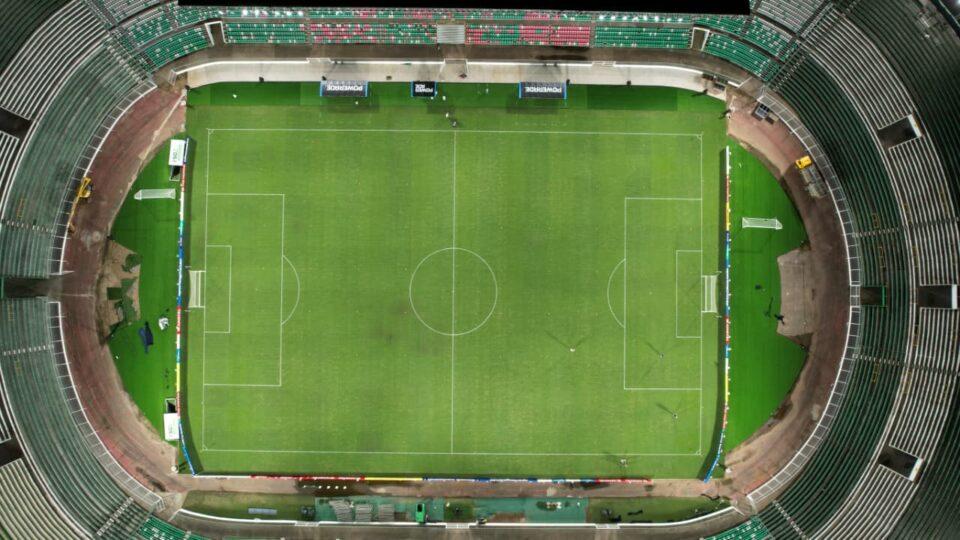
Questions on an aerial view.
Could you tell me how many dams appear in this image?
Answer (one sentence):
There are no dams in the image.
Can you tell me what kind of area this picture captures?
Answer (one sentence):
The area seen from above is a sports ground.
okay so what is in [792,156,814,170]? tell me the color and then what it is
yellow work vehicle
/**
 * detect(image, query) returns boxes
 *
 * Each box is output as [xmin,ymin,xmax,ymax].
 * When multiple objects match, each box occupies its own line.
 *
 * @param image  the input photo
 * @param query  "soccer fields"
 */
[185,110,728,480]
